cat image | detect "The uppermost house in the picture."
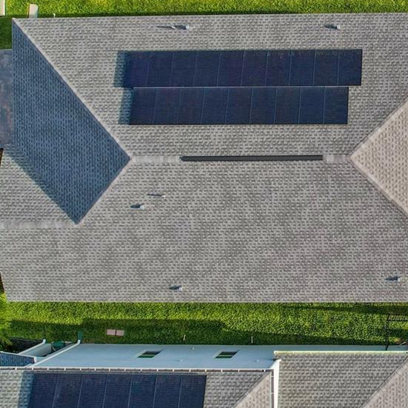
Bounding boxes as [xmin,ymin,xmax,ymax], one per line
[0,14,408,301]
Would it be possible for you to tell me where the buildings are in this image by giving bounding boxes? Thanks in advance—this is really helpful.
[0,336,408,408]
[0,14,408,301]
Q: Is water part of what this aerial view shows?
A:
No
